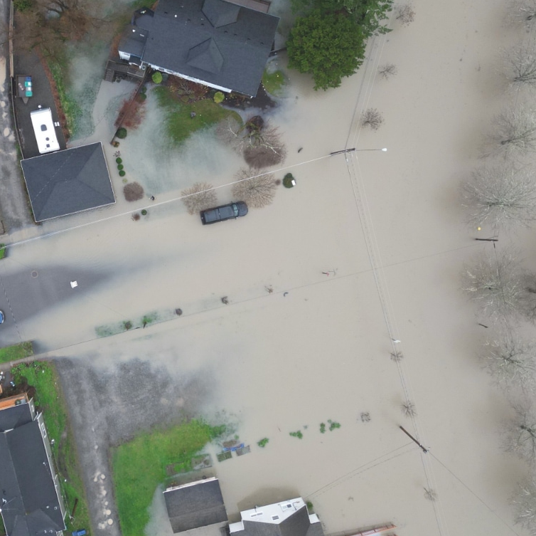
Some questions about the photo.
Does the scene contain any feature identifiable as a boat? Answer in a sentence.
No, there isn't any boat down there.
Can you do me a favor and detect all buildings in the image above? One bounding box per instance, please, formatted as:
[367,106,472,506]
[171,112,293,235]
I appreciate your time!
[0,388,66,536]
[229,497,322,536]
[20,141,116,222]
[163,475,228,534]
[102,0,280,97]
